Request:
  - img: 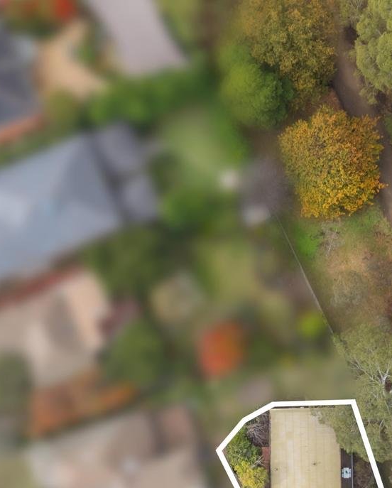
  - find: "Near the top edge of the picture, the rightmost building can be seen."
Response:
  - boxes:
[86,0,188,77]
